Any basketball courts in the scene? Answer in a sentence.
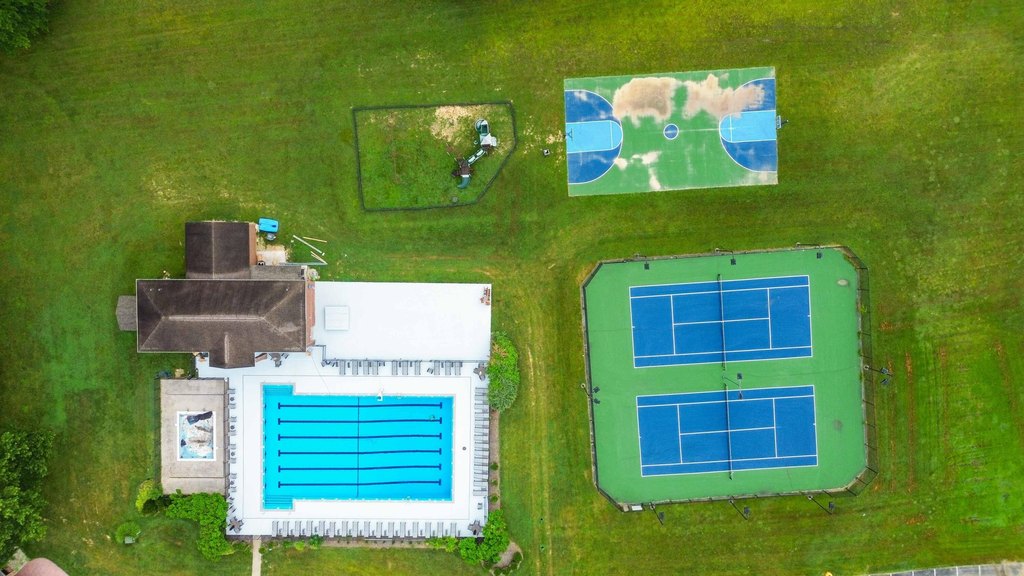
Yes, the photo shows a basketball court.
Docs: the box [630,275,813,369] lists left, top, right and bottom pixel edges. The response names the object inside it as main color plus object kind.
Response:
blue tennis court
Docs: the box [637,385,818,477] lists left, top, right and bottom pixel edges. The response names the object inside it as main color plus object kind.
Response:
blue tennis court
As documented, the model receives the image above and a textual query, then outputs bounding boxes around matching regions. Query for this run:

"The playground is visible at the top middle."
[450,116,497,191]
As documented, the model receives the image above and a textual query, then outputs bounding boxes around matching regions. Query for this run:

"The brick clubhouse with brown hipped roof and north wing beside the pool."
[116,221,313,368]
